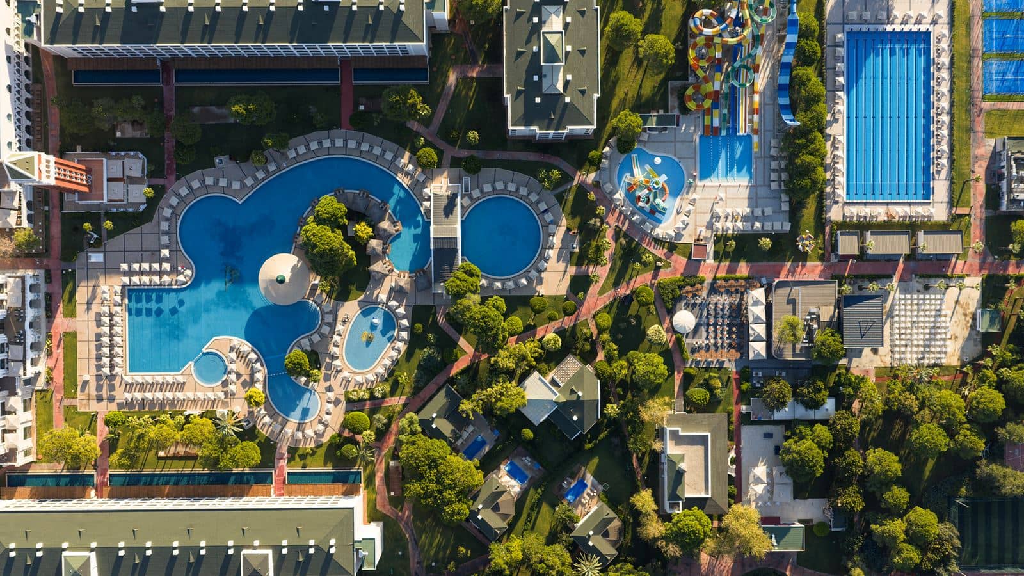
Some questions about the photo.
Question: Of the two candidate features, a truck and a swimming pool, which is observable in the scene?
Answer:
swimming pool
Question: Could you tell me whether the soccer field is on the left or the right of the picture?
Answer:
right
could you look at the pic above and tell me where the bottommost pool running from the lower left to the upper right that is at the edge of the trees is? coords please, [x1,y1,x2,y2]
[564,478,589,503]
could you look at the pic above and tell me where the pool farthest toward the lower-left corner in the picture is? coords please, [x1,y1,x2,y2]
[6,473,96,487]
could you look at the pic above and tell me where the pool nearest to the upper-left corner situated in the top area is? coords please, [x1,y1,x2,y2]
[72,69,162,86]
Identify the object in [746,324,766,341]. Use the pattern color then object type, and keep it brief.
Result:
white tent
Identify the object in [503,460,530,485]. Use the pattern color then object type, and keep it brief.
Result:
blue swimming pool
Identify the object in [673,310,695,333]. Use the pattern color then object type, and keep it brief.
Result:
white umbrella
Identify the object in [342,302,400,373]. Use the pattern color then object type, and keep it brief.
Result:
blue swimming pool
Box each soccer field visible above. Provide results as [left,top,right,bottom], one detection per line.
[958,498,1024,571]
